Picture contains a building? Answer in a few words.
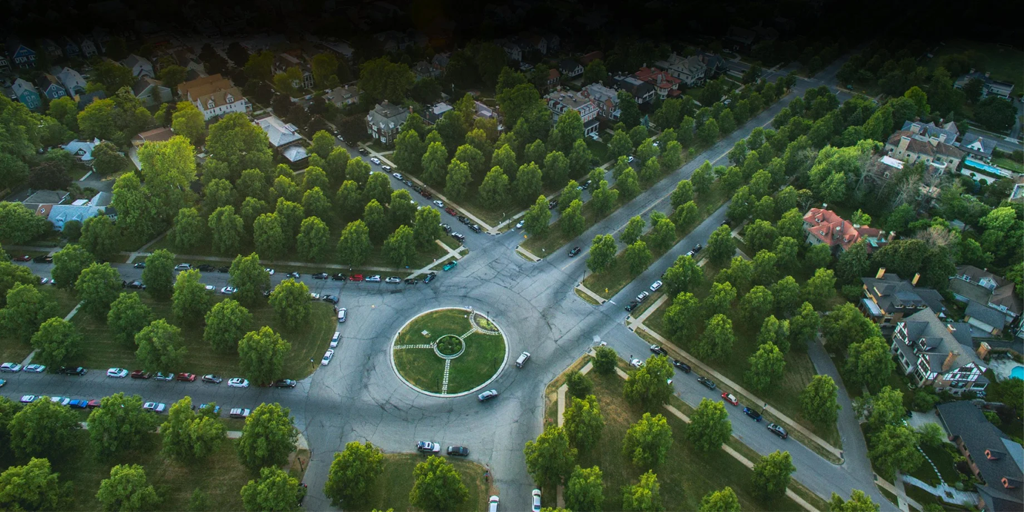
Yes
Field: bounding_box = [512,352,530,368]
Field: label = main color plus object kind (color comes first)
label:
white car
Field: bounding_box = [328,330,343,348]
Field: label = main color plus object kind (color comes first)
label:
white car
